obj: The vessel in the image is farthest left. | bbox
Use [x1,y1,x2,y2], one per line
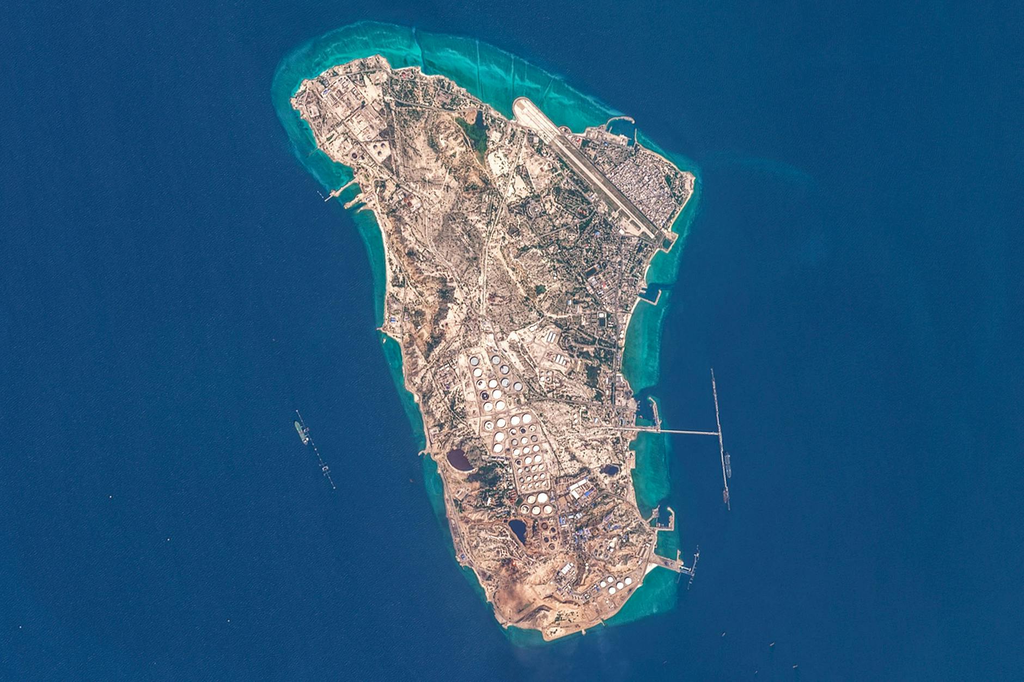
[295,422,307,445]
